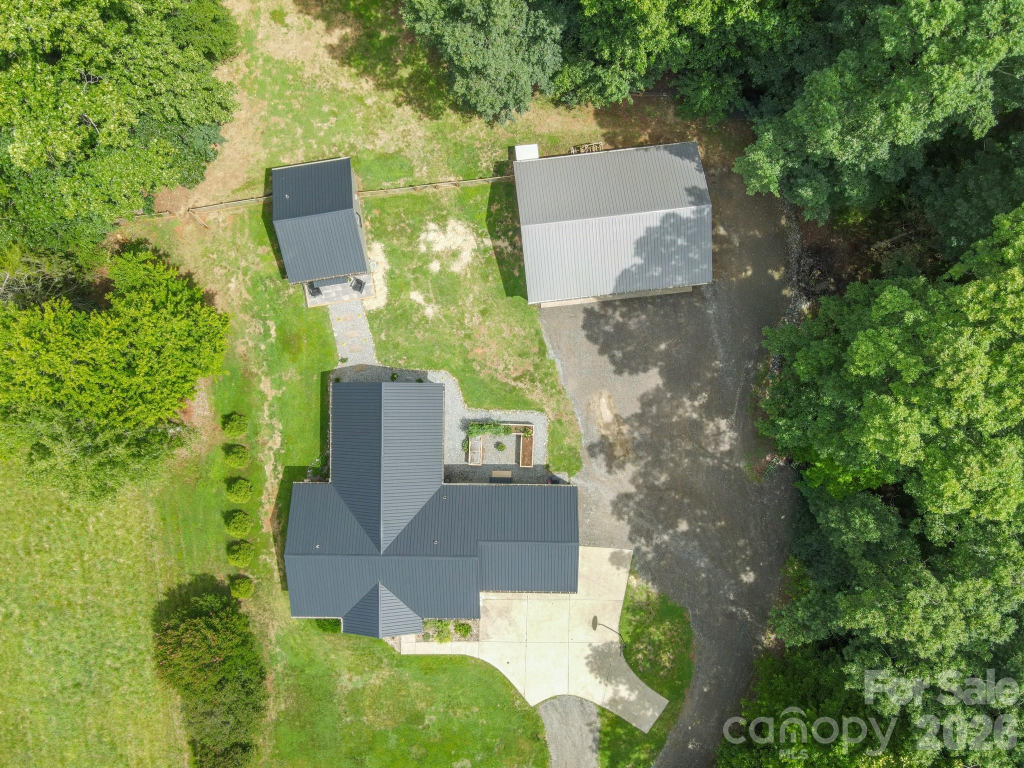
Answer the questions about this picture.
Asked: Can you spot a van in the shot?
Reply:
No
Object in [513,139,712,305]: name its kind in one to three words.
barn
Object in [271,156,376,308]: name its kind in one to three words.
shed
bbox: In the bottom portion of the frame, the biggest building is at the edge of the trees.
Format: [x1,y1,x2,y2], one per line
[283,382,581,639]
